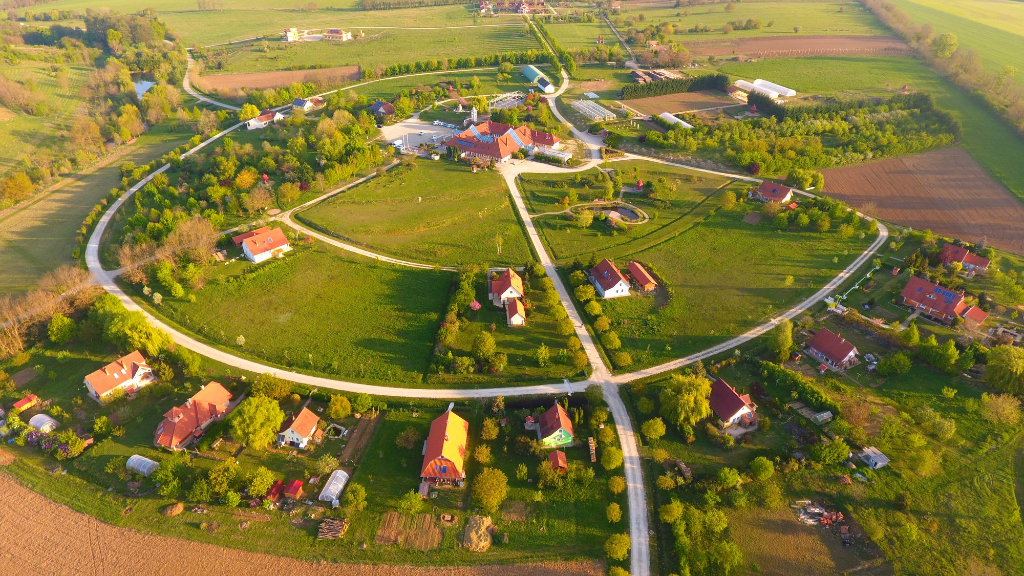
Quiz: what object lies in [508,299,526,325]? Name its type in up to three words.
building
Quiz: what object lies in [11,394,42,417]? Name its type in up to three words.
shed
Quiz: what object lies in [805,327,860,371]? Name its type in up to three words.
house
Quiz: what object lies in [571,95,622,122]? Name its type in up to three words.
greenhouse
